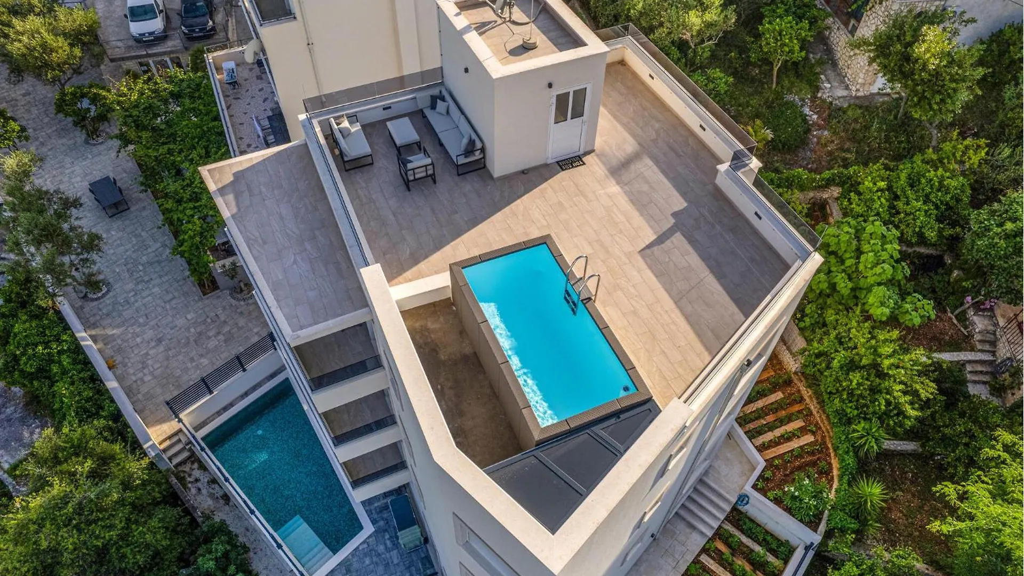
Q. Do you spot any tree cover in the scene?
Yes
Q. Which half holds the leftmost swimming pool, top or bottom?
bottom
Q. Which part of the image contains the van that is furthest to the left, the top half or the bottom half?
top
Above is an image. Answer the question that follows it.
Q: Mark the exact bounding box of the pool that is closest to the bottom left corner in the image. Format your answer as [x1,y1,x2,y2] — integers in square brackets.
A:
[195,368,375,576]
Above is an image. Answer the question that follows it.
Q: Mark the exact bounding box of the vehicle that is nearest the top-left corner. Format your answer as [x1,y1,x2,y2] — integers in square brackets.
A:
[121,0,173,49]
